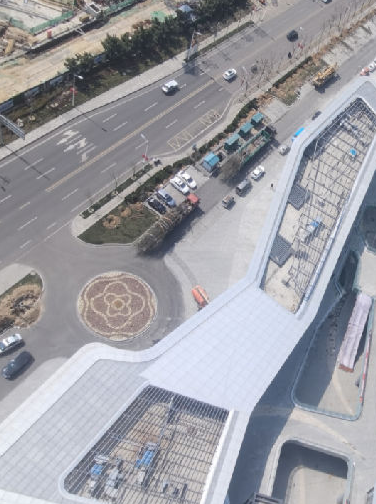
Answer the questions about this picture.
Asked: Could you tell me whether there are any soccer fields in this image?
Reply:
No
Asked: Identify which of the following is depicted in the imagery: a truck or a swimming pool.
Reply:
truck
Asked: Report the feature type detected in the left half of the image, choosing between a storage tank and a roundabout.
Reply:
roundabout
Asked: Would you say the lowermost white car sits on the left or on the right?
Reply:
left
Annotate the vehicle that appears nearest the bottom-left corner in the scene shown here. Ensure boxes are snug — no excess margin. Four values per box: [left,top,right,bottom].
[0,352,35,377]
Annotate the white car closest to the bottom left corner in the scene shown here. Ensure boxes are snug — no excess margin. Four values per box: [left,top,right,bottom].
[0,333,25,354]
